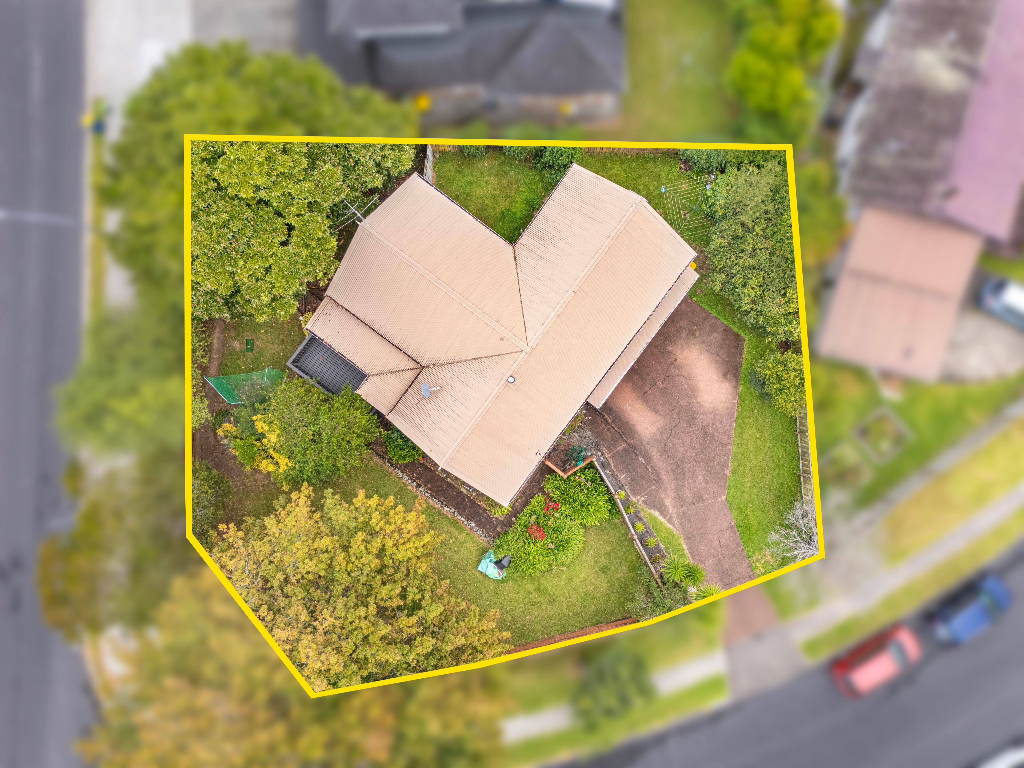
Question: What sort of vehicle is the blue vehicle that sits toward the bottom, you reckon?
automobile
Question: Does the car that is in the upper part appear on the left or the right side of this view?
right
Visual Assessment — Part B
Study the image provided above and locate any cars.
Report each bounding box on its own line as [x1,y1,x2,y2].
[831,626,917,692]
[979,734,1024,768]
[926,575,1011,646]
[978,280,1024,329]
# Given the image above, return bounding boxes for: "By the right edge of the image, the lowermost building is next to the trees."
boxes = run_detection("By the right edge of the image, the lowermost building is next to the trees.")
[801,206,985,383]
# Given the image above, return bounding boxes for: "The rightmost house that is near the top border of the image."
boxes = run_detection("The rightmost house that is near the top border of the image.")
[843,0,1024,243]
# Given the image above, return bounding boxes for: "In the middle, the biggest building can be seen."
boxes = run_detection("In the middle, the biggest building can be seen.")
[285,161,705,509]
